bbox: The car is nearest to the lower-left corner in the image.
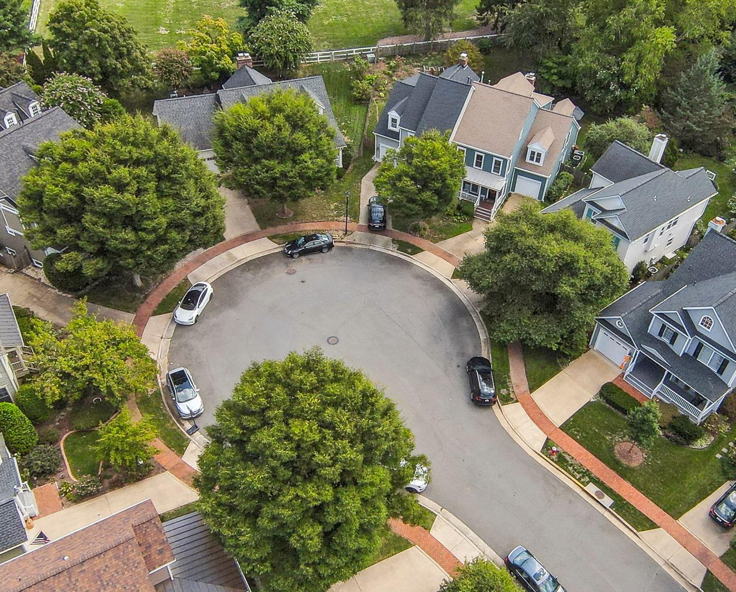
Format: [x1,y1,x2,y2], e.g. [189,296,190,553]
[168,366,205,421]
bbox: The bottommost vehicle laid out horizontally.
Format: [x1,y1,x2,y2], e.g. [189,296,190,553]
[283,237,336,261]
